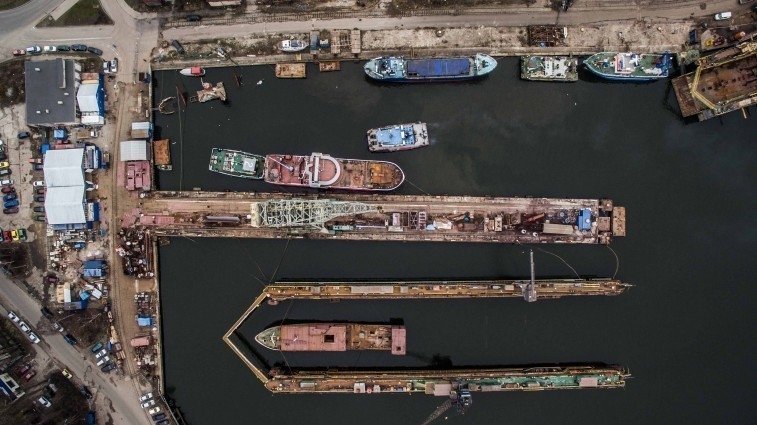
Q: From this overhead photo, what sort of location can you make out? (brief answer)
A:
port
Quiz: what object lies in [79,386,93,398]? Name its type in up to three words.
vehicle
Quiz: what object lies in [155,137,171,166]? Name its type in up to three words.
ship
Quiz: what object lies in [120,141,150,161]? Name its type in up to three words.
shed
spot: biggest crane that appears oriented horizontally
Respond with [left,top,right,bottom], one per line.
[251,193,387,232]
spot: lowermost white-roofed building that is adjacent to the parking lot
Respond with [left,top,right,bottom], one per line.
[42,149,94,224]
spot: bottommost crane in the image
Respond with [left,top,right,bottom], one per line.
[417,384,475,425]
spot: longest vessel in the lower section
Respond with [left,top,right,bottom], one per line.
[256,322,407,355]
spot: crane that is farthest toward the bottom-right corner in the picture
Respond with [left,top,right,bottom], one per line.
[520,247,540,301]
